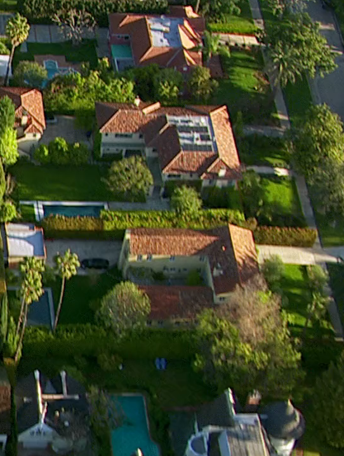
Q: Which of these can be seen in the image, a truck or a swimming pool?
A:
swimming pool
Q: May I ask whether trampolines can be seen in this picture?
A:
No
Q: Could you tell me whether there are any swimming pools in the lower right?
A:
No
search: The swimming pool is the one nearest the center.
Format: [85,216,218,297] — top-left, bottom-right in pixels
[40,202,106,218]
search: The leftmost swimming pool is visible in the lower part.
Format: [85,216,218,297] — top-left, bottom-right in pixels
[25,287,56,332]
